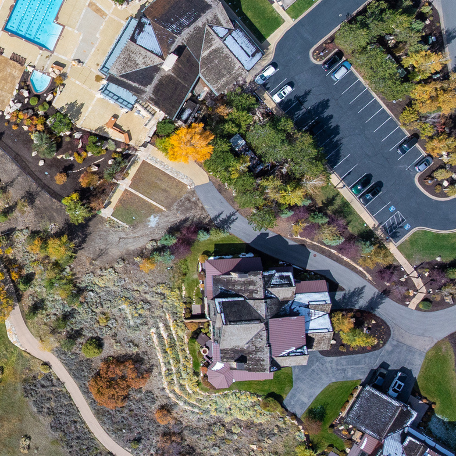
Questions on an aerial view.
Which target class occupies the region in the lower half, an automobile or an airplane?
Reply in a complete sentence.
Visible in the lower half is an automobile.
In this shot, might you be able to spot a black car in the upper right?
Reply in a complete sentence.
Yes, a black car shows up in the upper right.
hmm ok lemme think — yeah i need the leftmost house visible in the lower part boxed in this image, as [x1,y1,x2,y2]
[181,257,334,389]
